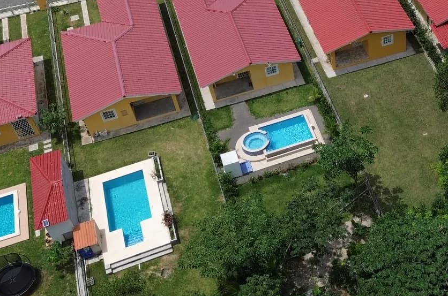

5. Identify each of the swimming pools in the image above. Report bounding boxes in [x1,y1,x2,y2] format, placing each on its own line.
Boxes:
[88,160,180,278]
[0,183,29,249]
[234,110,328,175]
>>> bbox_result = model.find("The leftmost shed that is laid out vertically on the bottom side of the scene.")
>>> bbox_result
[30,150,76,242]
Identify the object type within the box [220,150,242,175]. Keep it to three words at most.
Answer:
building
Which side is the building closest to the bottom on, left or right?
left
